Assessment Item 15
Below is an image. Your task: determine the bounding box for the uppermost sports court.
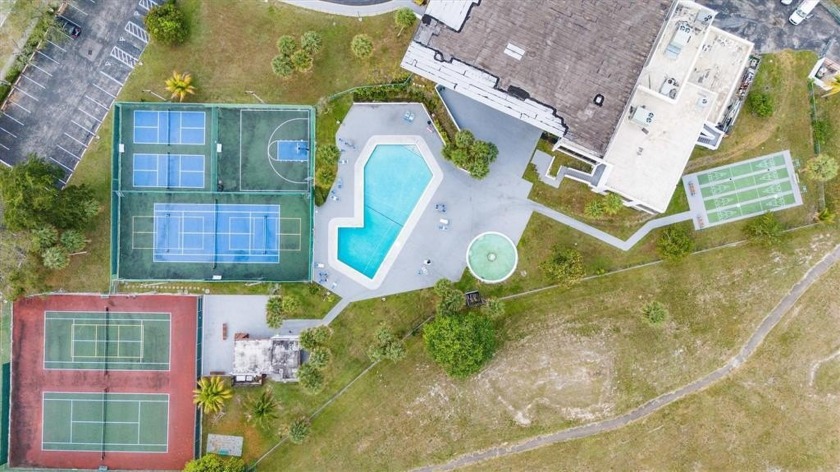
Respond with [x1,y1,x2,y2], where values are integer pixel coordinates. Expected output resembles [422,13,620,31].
[133,108,205,144]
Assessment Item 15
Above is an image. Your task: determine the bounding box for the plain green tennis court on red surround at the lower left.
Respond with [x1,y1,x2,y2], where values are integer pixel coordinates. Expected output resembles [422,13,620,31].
[41,389,170,458]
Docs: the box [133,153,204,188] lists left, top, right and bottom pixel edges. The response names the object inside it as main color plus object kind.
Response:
blue sports court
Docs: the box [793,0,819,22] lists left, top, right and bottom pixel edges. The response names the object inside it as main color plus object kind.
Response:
white vehicle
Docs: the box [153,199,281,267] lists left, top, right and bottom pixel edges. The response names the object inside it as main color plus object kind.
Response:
blue tennis court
